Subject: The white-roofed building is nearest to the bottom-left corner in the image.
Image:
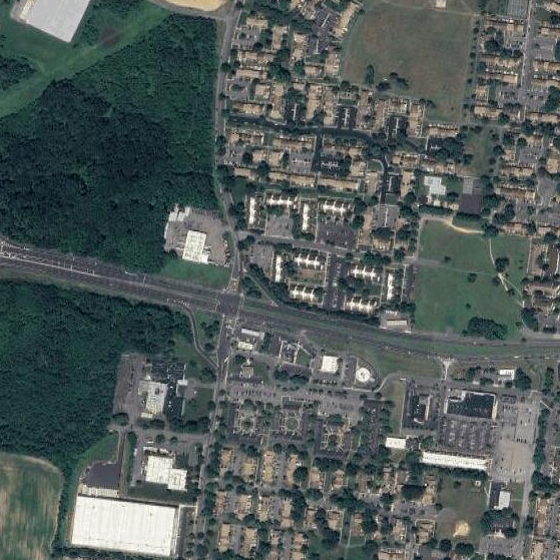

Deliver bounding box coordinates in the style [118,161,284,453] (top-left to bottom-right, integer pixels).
[71,495,177,556]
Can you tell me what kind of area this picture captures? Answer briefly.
residential area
